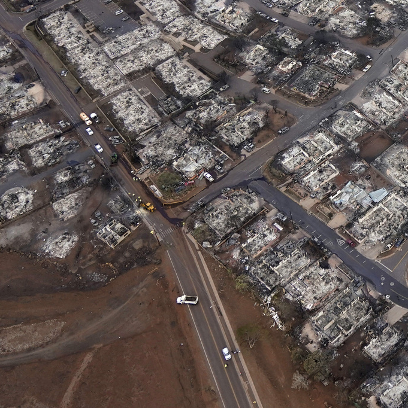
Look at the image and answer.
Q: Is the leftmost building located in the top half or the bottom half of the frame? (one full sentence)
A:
Seen from above, the leftmost building lies in the top half of the view.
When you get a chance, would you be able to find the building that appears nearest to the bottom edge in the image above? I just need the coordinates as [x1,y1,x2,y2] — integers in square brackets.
[138,126,189,165]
